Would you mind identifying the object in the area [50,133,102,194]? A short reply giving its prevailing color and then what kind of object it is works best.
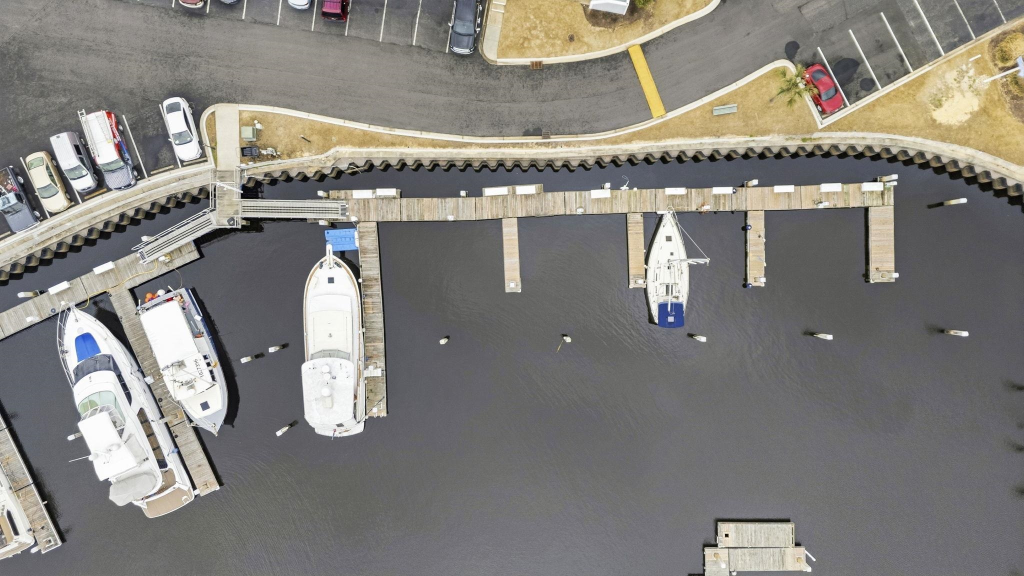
white car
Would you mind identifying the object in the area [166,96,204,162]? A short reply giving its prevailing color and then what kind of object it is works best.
white car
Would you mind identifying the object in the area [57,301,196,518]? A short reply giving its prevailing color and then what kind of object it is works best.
white boat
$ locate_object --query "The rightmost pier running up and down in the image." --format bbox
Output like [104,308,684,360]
[864,206,895,282]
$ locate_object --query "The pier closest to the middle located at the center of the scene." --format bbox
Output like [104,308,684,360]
[500,218,523,293]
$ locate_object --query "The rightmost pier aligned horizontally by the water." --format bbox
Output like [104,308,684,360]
[802,182,894,209]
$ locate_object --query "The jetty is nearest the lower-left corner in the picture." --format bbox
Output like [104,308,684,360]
[20,483,63,552]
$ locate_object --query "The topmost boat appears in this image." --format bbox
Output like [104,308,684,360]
[643,206,712,328]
